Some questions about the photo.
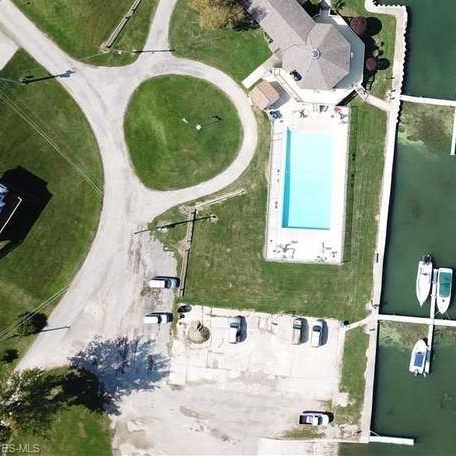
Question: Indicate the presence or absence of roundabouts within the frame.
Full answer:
Yes, the photo shows a roundabout.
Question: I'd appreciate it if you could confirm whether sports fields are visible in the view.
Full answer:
No, this view has no sports field in it.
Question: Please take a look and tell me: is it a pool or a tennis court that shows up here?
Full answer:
The one in the frame is a pool.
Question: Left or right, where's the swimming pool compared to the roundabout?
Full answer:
It is on the right side of the roundabout that the swimming pool is positioned.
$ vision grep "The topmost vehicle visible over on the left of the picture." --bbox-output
[146,278,176,291]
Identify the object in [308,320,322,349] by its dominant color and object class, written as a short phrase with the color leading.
white car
